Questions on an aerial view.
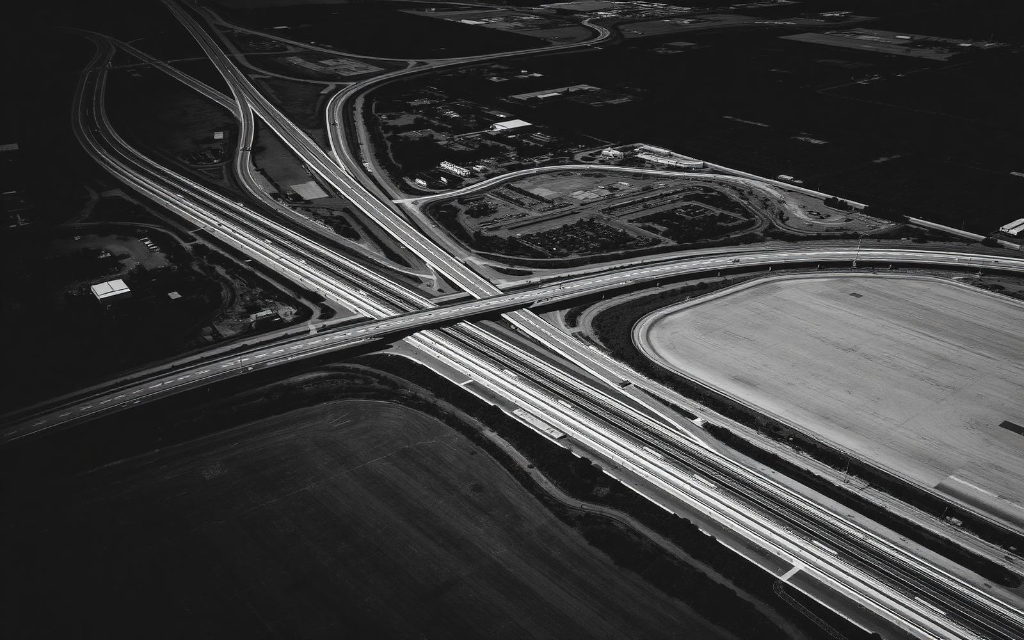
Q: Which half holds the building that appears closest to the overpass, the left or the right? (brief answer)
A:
right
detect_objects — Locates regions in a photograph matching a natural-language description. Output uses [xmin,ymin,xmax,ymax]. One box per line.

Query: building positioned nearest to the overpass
[903,216,1020,252]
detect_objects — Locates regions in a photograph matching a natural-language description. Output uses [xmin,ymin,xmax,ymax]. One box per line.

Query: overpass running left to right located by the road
[0,247,1024,460]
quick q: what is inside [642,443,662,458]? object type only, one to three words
vehicle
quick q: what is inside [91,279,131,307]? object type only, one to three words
barn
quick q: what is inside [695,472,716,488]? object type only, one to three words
vehicle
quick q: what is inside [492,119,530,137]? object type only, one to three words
building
